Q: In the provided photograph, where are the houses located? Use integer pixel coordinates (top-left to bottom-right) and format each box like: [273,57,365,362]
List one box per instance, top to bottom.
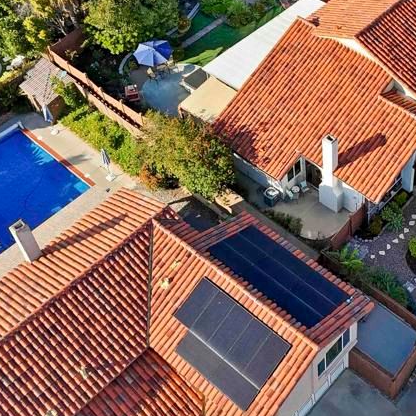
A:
[211,0,416,220]
[0,185,377,416]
